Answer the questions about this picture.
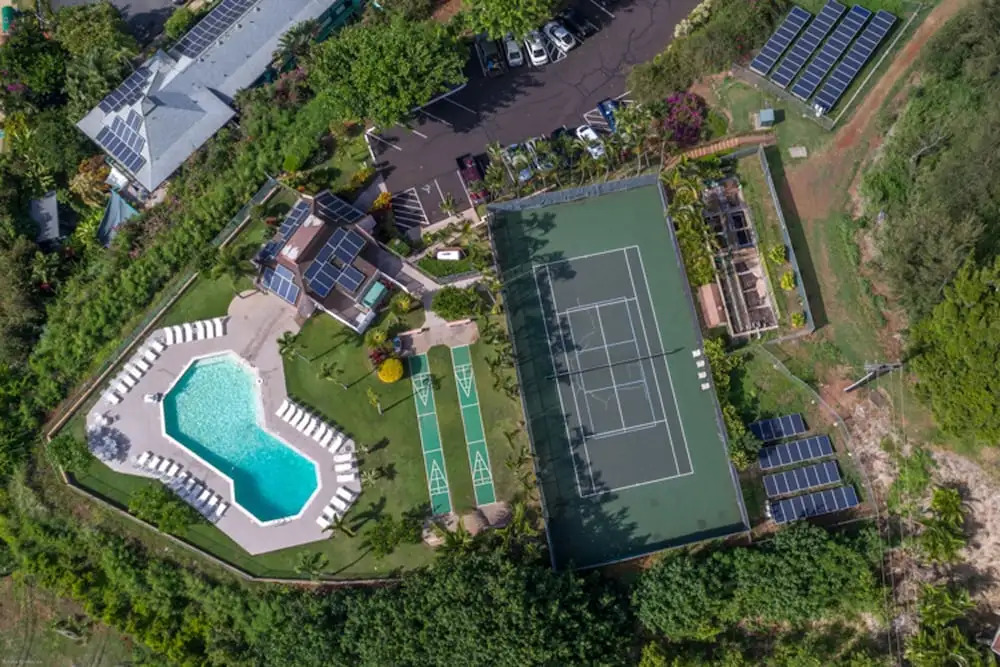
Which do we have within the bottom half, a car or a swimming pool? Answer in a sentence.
It is a swimming pool that can be seen within the bottom half.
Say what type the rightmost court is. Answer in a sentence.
I'd say the rightmost court is a tennis court.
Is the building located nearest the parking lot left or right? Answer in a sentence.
The building located nearest the parking lot appears in the left half of the scene.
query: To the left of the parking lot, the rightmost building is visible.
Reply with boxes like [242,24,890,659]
[252,188,383,335]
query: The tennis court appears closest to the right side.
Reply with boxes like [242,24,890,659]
[489,185,741,564]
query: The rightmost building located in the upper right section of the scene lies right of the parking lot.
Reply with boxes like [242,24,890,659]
[751,109,774,130]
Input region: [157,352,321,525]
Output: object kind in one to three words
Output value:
swimming pool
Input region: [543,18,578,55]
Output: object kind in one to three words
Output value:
car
